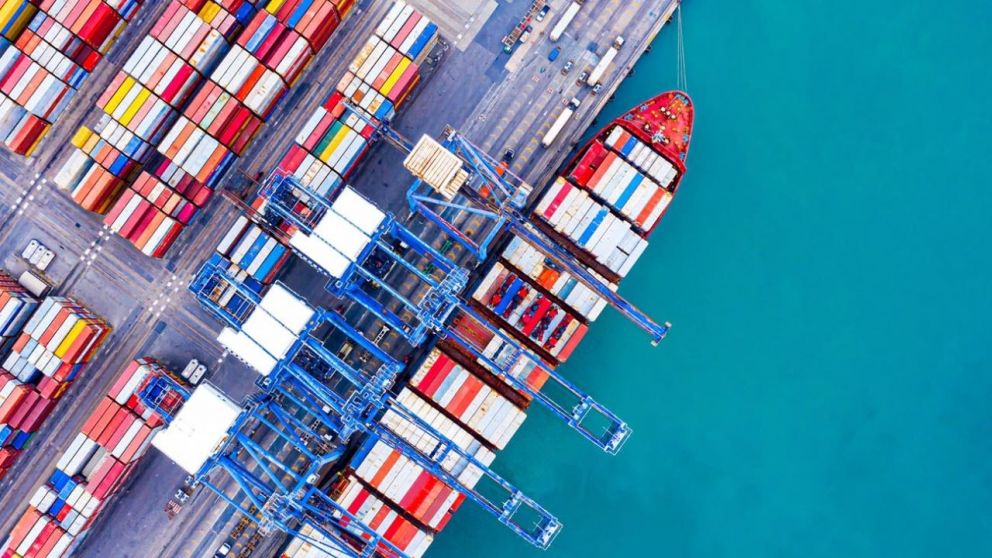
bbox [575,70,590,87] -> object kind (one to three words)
vehicle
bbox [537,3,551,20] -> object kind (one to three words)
vehicle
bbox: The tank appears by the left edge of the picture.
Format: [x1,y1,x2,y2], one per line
[11,264,57,298]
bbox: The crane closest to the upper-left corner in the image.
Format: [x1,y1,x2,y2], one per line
[216,164,318,249]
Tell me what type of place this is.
port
